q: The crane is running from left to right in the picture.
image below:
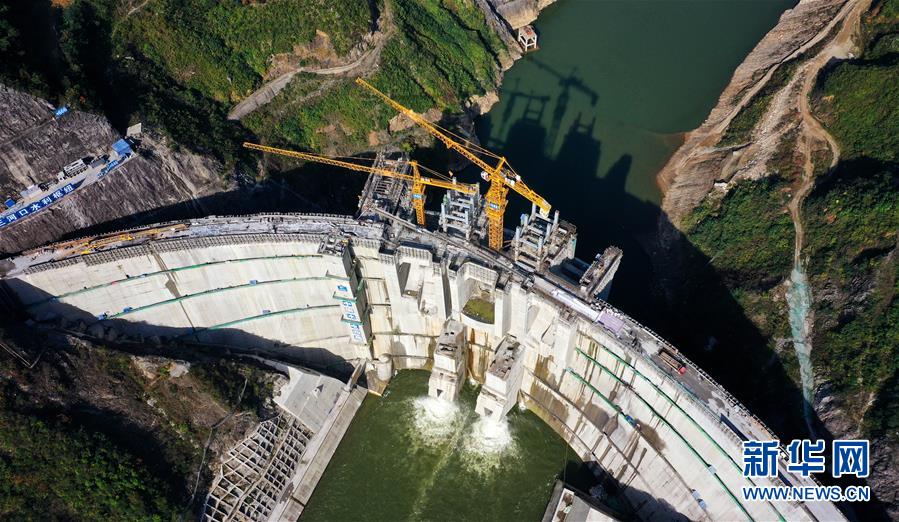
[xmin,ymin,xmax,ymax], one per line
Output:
[242,145,478,229]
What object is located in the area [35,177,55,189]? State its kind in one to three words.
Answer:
vehicle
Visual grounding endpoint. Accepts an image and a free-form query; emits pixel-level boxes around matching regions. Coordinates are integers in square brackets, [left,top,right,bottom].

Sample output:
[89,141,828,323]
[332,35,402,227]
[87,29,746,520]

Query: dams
[0,209,859,522]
